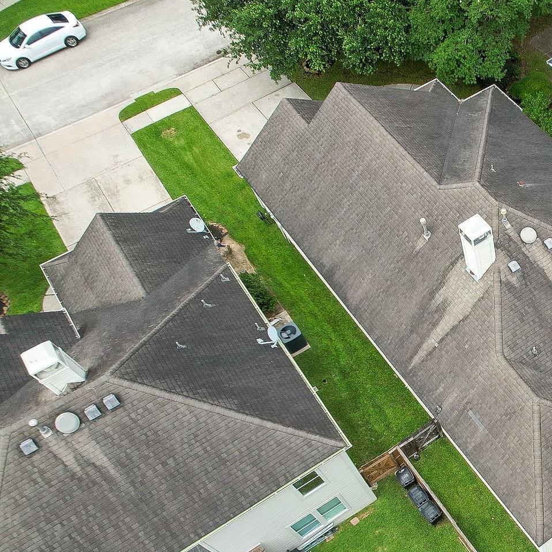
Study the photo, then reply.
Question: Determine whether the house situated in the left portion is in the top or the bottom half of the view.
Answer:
bottom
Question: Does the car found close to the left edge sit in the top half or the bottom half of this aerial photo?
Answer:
top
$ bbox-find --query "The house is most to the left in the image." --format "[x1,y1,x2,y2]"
[0,194,377,552]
